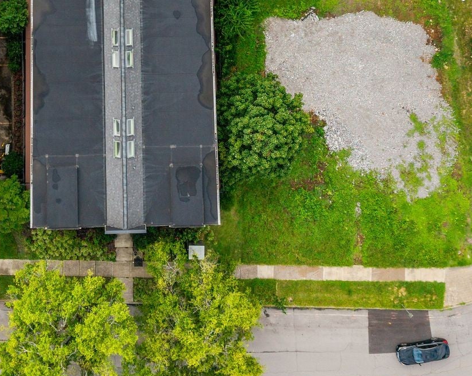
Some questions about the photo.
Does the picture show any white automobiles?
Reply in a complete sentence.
No, I find no white automobile anywhere in the image.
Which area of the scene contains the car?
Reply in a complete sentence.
The car is in the bottom right part of the image.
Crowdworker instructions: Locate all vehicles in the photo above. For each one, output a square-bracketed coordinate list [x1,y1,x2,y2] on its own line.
[393,336,450,368]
